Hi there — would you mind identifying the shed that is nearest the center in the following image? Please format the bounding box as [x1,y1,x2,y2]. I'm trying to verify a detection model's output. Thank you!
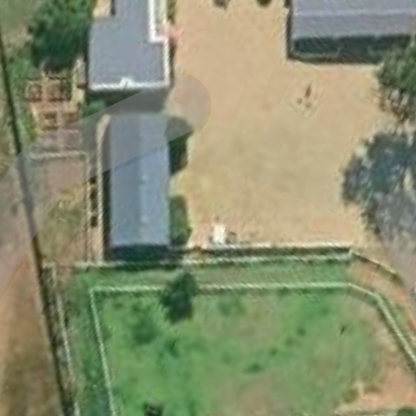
[110,113,171,254]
